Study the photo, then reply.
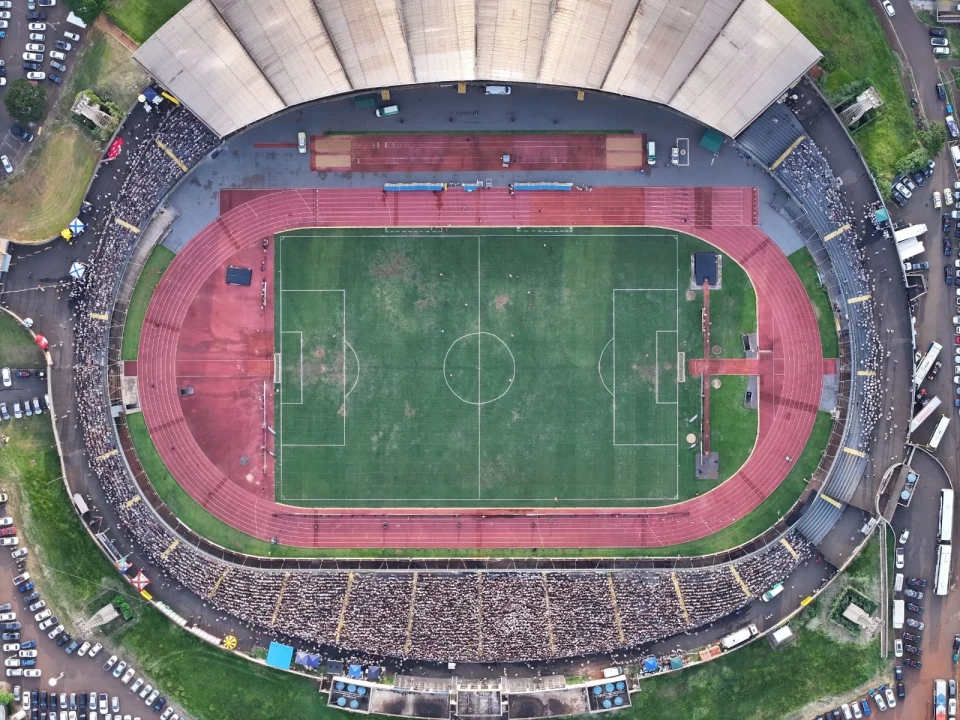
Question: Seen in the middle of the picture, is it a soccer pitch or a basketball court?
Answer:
soccer pitch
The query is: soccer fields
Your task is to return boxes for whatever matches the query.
[274,226,759,509]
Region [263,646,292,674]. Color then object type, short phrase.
blue tent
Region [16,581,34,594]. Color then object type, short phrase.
blue vehicle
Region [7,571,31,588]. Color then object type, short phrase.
white vehicle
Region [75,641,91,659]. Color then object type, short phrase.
white car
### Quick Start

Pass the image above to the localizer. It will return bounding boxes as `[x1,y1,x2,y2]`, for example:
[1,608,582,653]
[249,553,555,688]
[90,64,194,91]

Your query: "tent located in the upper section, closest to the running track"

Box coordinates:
[699,127,728,153]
